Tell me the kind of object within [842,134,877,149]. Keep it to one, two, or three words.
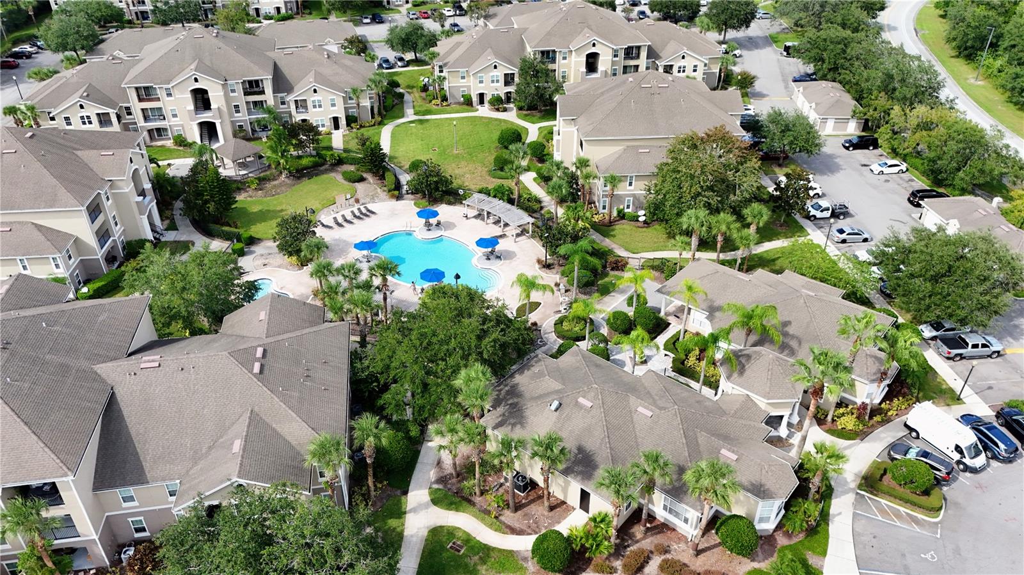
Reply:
car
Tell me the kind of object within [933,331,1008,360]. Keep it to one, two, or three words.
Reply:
truck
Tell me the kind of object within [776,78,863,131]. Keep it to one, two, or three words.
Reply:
building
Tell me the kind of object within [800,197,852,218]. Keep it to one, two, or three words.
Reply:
truck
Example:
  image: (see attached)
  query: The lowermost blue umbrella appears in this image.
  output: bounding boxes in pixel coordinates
[417,269,449,292]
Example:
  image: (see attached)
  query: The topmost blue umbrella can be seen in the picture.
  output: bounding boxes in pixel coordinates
[414,210,440,224]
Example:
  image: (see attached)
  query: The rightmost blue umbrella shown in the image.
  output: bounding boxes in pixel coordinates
[474,238,501,251]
